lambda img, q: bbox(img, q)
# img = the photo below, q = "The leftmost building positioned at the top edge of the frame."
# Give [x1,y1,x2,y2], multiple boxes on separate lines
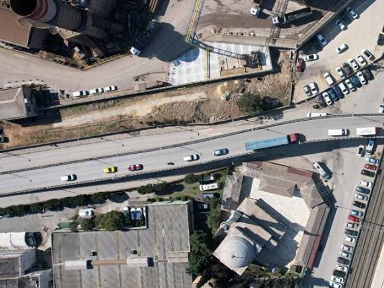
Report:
[0,6,45,48]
